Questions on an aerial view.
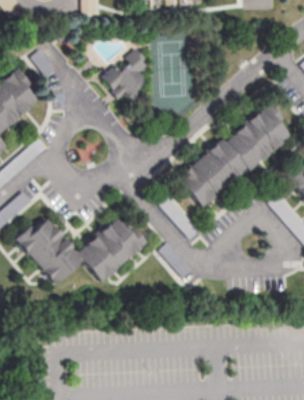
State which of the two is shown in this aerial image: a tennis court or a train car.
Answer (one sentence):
Visible in the photo is a tennis court.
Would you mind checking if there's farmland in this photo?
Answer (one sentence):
No, farmland can't be seen anywhere here.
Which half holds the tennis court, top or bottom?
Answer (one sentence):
It is in the top half that the tennis court appears.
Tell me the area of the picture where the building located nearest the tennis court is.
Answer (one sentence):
The building located nearest the tennis court appears toward the top of the photo.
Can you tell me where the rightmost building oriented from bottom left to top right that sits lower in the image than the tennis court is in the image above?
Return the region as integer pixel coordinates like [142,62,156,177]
[180,108,294,207]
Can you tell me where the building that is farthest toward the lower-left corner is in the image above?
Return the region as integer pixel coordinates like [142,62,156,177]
[17,219,80,285]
